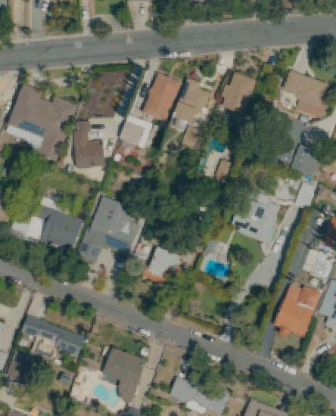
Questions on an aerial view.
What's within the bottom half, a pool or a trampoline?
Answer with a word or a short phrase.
pool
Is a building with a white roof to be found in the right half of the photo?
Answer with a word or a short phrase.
Yes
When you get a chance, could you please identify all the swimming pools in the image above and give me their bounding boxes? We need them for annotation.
[202,258,231,280]
[95,382,119,405]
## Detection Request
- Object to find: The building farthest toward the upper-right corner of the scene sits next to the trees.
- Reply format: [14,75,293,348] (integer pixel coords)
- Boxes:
[286,72,331,116]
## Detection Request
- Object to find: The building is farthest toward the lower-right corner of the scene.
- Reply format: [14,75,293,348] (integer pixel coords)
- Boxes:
[243,394,296,416]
